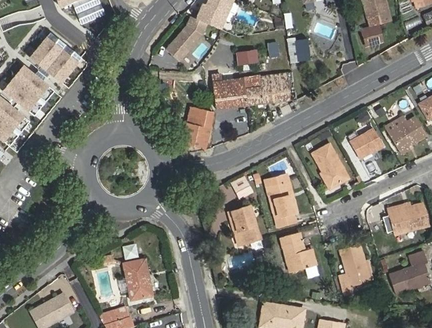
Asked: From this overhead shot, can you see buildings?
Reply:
Yes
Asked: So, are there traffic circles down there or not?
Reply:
Yes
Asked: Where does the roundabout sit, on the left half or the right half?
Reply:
left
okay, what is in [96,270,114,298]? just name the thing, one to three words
swimming pool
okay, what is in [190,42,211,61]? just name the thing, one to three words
swimming pool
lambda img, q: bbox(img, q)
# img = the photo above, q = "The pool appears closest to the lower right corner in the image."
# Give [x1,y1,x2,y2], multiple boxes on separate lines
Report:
[230,252,256,269]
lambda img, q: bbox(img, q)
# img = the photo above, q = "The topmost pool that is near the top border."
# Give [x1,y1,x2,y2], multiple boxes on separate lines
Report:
[236,10,259,26]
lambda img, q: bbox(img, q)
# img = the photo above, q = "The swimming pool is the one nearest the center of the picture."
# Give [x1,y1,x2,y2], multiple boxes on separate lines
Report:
[268,158,289,173]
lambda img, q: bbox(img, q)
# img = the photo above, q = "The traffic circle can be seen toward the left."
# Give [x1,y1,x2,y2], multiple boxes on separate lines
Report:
[77,125,168,217]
